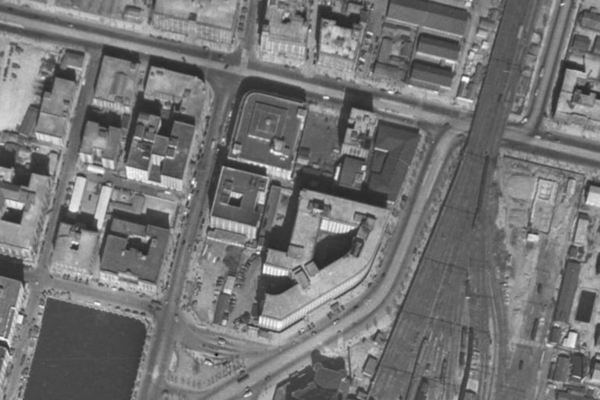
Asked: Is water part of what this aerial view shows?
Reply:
No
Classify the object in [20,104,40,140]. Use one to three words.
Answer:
shed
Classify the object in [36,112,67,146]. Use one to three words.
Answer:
building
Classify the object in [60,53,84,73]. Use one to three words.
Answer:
house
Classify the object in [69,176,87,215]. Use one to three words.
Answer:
shed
